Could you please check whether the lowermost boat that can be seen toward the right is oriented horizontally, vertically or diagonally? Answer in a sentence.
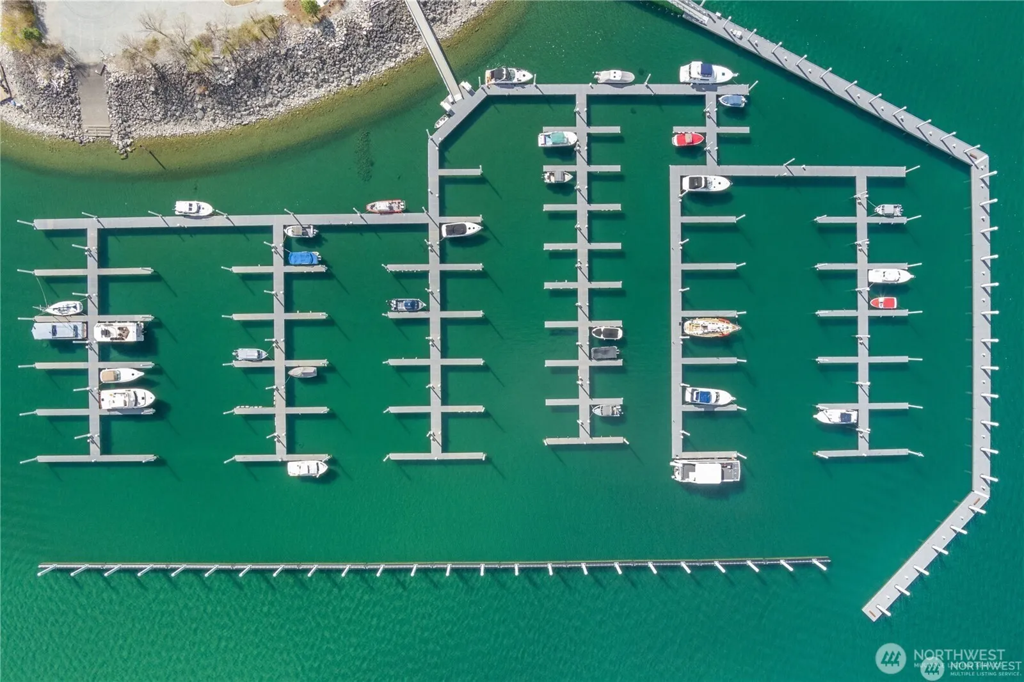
The lowermost boat that can be seen toward the right is laid out horizontally.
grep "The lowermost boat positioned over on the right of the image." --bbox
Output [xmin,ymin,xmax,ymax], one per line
[671,459,740,483]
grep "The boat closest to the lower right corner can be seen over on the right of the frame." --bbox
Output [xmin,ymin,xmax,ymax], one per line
[813,409,858,427]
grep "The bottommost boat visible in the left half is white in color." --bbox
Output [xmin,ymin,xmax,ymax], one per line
[288,461,329,478]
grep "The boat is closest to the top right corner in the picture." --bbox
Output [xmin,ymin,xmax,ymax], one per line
[868,200,906,216]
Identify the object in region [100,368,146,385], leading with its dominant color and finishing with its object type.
white boat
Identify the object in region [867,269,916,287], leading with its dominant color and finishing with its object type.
white boat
